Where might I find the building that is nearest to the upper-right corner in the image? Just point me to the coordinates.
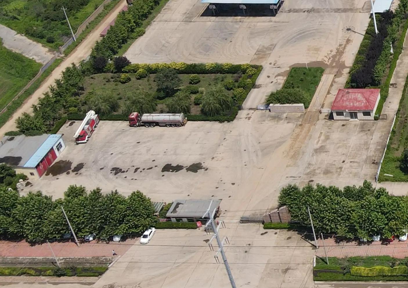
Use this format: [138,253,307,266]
[330,89,381,121]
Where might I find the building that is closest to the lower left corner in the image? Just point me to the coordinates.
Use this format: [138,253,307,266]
[0,134,66,178]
